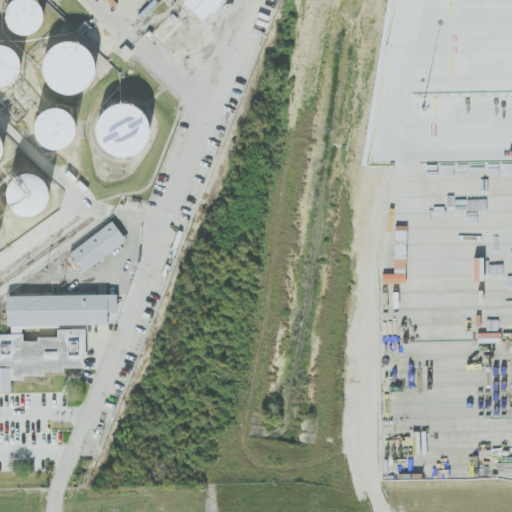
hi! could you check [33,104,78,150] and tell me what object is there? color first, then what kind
white storage tank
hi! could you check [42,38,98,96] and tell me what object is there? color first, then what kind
white storage tank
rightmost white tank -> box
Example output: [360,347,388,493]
[96,100,152,158]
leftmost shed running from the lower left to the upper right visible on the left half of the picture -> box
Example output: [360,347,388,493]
[70,221,126,273]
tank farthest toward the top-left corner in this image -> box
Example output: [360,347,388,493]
[3,0,46,36]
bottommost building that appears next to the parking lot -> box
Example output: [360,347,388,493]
[0,328,86,381]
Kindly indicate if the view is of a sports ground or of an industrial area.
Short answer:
industrial area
